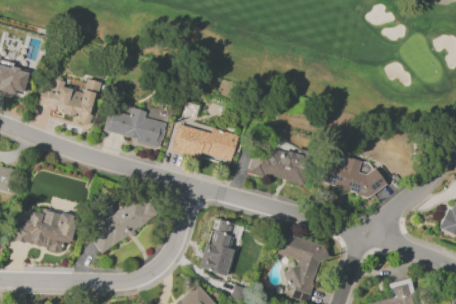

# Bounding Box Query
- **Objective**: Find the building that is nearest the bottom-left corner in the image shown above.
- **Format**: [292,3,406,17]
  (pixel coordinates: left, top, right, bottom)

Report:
[16,206,75,254]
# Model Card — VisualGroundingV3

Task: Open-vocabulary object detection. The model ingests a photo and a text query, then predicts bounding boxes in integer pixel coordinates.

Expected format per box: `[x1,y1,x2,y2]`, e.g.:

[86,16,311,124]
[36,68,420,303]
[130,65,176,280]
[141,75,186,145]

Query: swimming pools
[26,38,42,60]
[268,259,282,286]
